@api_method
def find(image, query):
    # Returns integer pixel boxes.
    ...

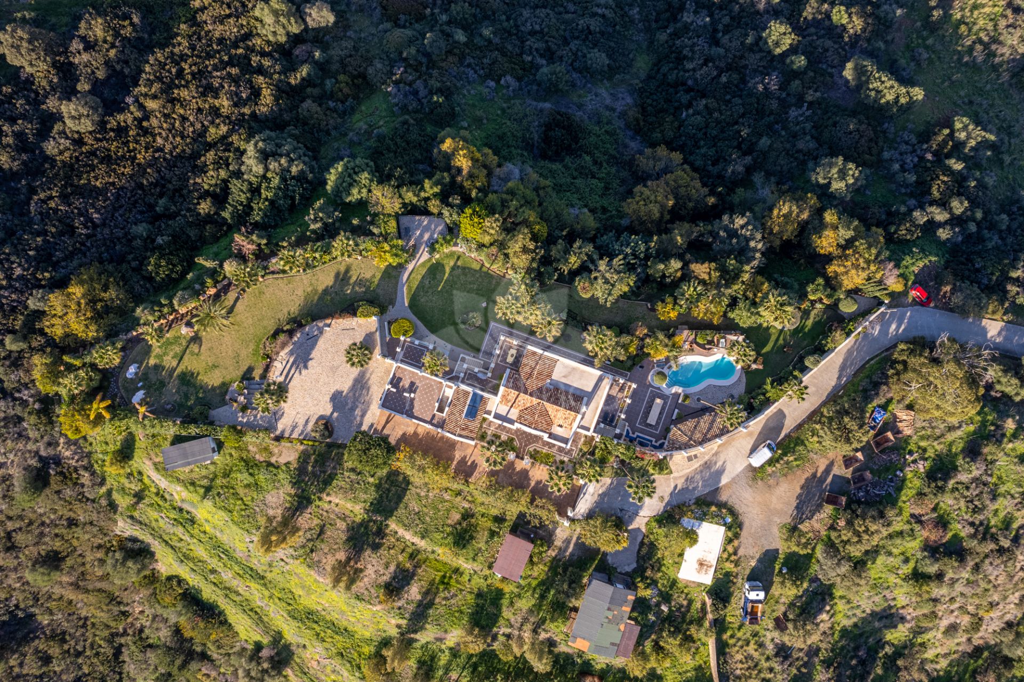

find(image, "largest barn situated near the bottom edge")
[568,571,641,658]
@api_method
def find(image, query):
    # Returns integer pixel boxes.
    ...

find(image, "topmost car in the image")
[906,283,932,307]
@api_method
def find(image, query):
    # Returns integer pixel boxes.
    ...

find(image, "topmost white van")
[747,439,778,468]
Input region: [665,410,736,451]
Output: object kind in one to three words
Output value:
house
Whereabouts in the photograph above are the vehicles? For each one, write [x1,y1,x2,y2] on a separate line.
[744,580,765,624]
[747,439,778,468]
[906,283,932,307]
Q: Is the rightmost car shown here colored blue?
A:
No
